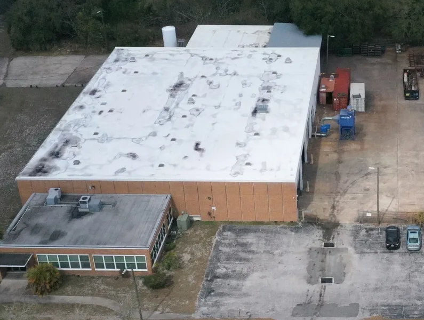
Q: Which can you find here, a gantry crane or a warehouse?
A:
warehouse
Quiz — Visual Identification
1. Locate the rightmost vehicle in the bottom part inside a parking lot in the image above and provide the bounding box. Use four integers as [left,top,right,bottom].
[405,224,422,248]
